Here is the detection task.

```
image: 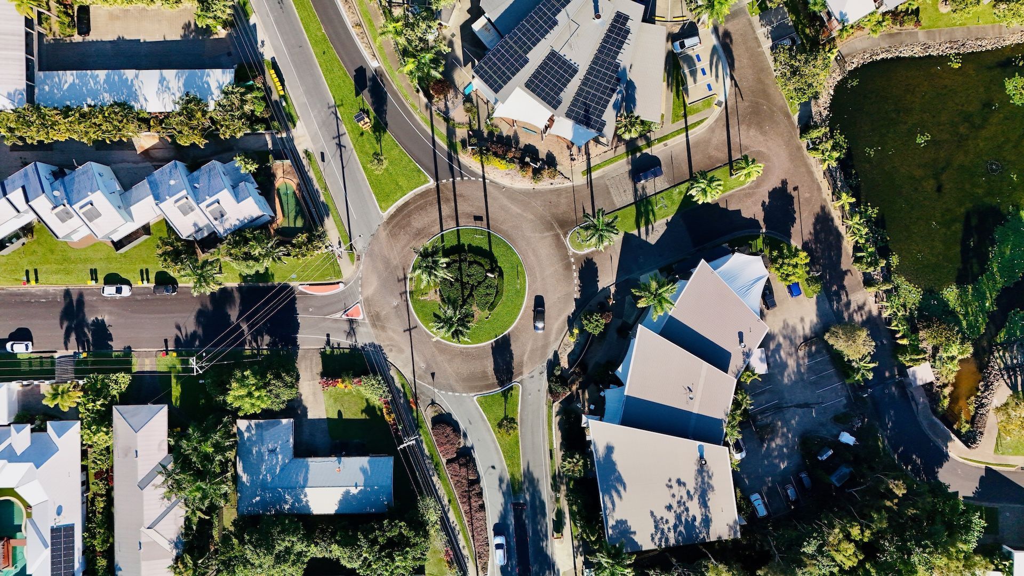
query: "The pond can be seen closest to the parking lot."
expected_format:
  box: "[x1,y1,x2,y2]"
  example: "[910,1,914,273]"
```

[833,45,1024,430]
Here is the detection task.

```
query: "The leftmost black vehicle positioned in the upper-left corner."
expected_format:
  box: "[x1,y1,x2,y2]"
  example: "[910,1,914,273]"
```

[73,5,92,38]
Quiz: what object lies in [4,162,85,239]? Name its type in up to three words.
house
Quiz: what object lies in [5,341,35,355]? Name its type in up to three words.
car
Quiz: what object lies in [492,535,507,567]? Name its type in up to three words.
car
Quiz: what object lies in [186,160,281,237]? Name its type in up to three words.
house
